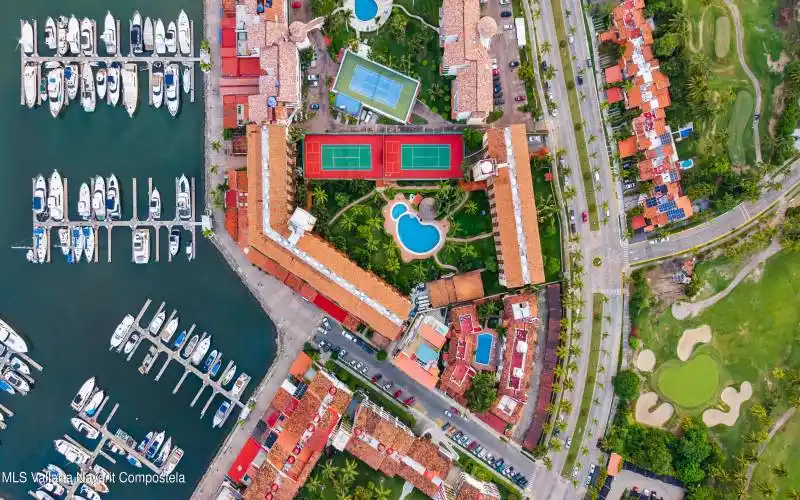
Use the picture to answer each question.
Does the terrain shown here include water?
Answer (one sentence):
Yes, water can be seen from above here.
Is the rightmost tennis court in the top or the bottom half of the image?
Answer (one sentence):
Seen from above, the rightmost tennis court lies in the top half of the view.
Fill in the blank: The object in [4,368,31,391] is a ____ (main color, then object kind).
white boat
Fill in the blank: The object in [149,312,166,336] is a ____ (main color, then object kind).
white boat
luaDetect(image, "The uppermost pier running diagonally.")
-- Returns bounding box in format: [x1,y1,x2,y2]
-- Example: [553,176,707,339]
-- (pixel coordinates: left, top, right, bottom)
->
[118,299,252,428]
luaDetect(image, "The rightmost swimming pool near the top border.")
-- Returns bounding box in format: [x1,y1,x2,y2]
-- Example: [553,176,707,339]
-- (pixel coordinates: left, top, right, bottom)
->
[345,0,393,32]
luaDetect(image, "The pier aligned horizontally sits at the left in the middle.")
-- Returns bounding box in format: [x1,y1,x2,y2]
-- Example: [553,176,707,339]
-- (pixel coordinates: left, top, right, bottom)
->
[30,178,202,262]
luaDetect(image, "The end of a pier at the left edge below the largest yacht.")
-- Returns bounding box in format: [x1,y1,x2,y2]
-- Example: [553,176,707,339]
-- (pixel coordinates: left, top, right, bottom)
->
[0,338,44,428]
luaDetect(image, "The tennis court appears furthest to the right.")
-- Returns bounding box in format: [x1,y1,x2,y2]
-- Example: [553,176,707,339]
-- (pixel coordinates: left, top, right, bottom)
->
[384,133,465,180]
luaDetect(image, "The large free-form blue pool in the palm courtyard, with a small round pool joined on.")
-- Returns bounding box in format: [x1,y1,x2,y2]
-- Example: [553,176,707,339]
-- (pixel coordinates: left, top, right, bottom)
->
[384,194,450,262]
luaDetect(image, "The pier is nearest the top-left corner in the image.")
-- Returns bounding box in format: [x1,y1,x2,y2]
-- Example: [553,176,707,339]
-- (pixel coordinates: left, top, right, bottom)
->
[18,19,200,104]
